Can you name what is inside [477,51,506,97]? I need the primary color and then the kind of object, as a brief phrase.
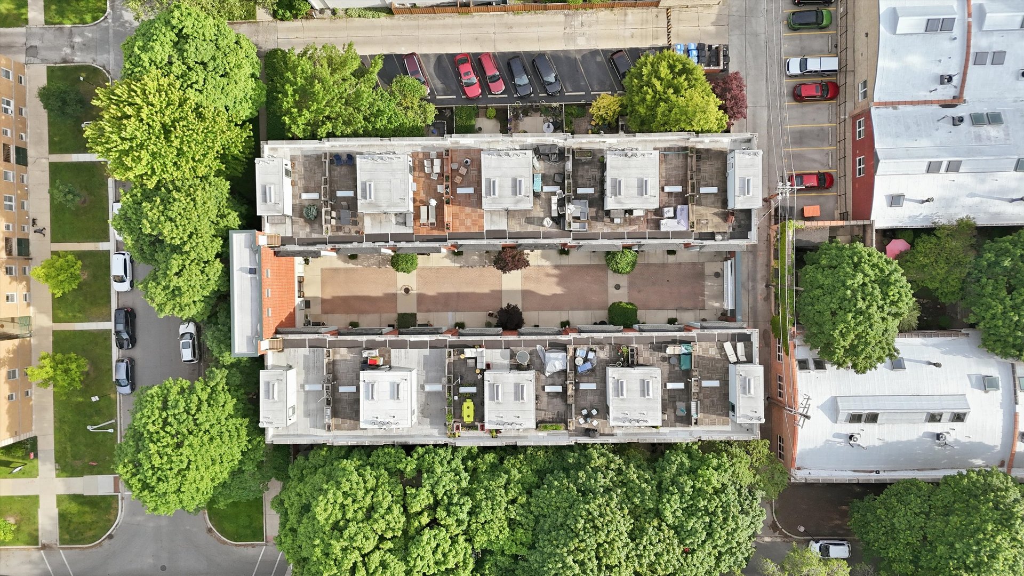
red car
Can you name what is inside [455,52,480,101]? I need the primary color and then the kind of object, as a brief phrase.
red car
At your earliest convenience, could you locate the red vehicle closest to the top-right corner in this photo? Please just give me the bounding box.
[793,80,838,102]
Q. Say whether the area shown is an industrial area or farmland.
industrial area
